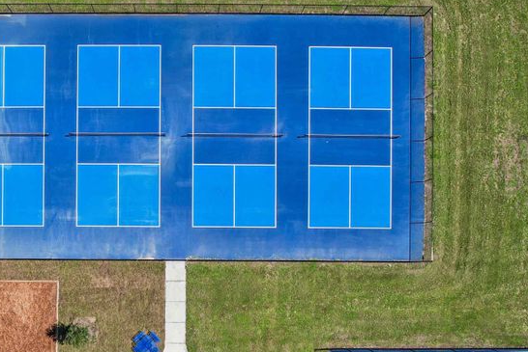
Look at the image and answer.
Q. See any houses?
No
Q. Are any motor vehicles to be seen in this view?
No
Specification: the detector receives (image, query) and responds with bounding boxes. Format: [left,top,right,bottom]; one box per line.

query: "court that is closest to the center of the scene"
[235,165,275,227]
